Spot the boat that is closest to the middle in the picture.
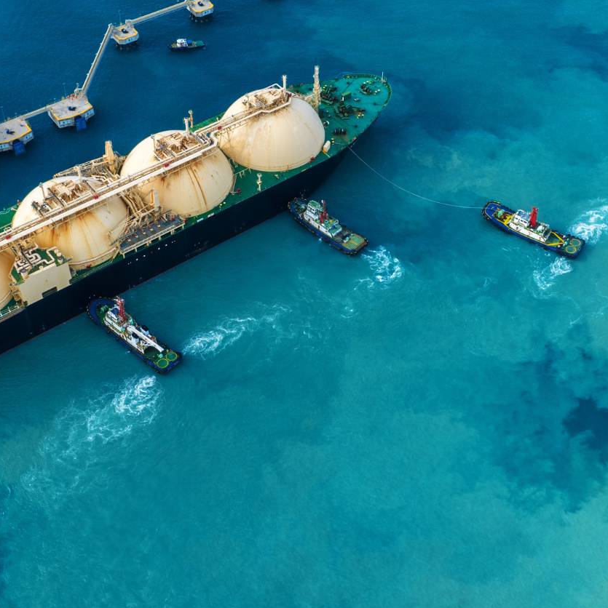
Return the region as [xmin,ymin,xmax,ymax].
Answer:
[288,196,373,259]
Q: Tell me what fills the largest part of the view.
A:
water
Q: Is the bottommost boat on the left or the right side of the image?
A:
left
